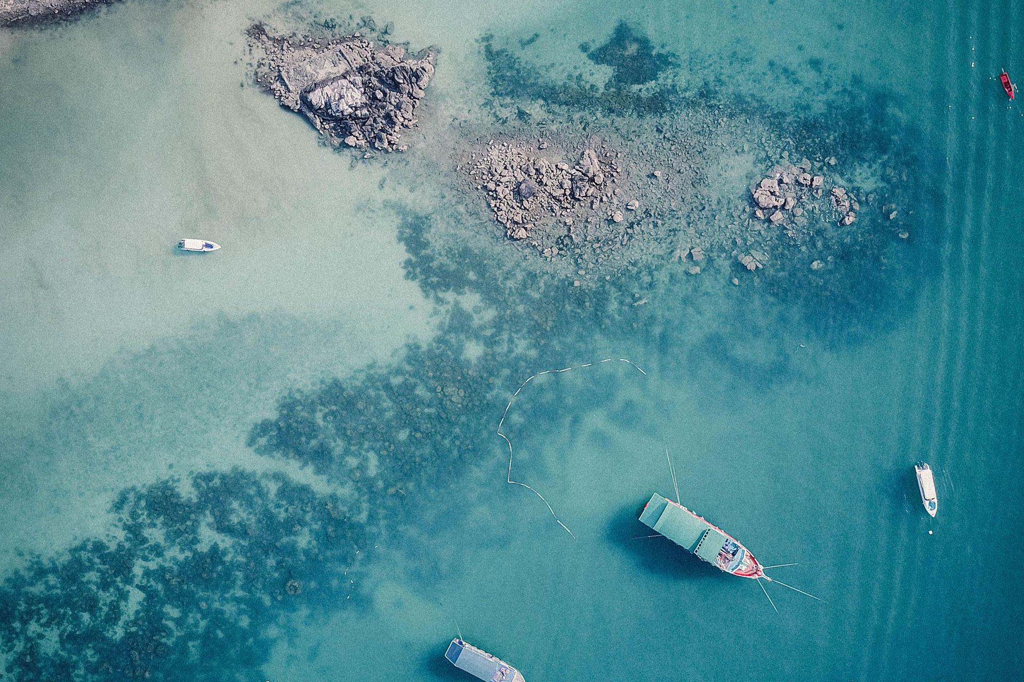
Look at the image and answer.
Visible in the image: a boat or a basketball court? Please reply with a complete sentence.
Looking from above, you can make out a boat.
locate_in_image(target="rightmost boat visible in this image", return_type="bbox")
[1000,70,1015,100]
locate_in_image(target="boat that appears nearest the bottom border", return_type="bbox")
[445,635,529,682]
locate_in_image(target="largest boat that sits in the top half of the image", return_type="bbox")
[178,238,222,252]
